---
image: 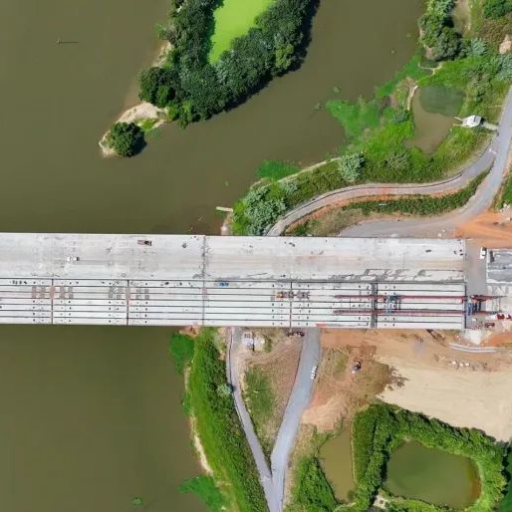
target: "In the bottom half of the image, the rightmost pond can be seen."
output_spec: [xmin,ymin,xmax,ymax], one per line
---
[384,439,482,508]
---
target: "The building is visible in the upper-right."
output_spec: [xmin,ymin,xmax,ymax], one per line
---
[457,112,483,130]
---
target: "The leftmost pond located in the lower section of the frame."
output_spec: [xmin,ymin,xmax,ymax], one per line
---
[316,426,354,499]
